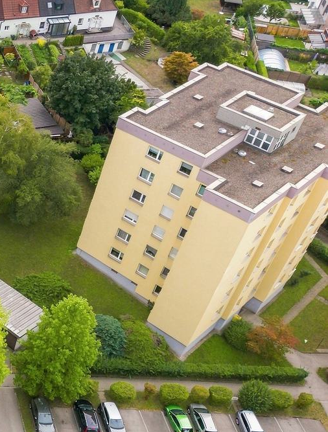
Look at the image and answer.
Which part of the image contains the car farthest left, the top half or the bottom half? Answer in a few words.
bottom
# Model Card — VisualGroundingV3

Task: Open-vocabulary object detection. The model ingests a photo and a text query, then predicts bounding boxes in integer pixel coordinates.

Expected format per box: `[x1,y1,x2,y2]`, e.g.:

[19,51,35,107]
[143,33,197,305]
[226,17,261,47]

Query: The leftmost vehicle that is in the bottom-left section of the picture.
[33,397,59,432]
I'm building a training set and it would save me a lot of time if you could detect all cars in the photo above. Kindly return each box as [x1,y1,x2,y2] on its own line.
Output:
[167,402,198,432]
[74,397,102,432]
[190,400,222,432]
[97,399,127,432]
[240,408,270,432]
[33,397,59,432]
